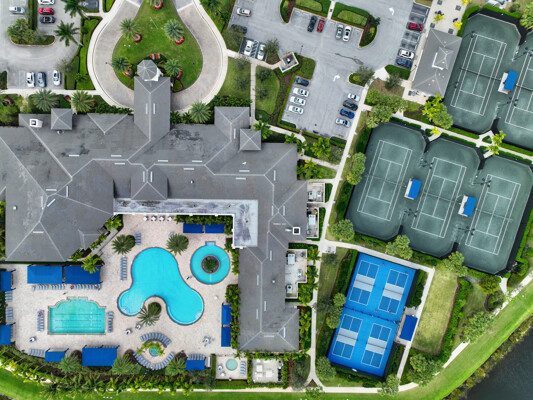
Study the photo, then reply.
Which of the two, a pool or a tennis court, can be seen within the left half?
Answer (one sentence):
What appears within the left half is a pool.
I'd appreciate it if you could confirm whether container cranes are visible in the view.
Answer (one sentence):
No, this view has no container crane in it.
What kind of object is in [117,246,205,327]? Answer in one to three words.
swimming pool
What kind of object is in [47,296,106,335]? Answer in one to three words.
swimming pool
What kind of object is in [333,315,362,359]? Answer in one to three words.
sports court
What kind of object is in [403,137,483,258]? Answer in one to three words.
tennis court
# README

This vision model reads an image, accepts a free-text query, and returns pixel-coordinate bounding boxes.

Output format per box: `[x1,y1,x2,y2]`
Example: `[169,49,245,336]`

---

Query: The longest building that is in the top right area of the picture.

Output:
[409,28,462,99]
